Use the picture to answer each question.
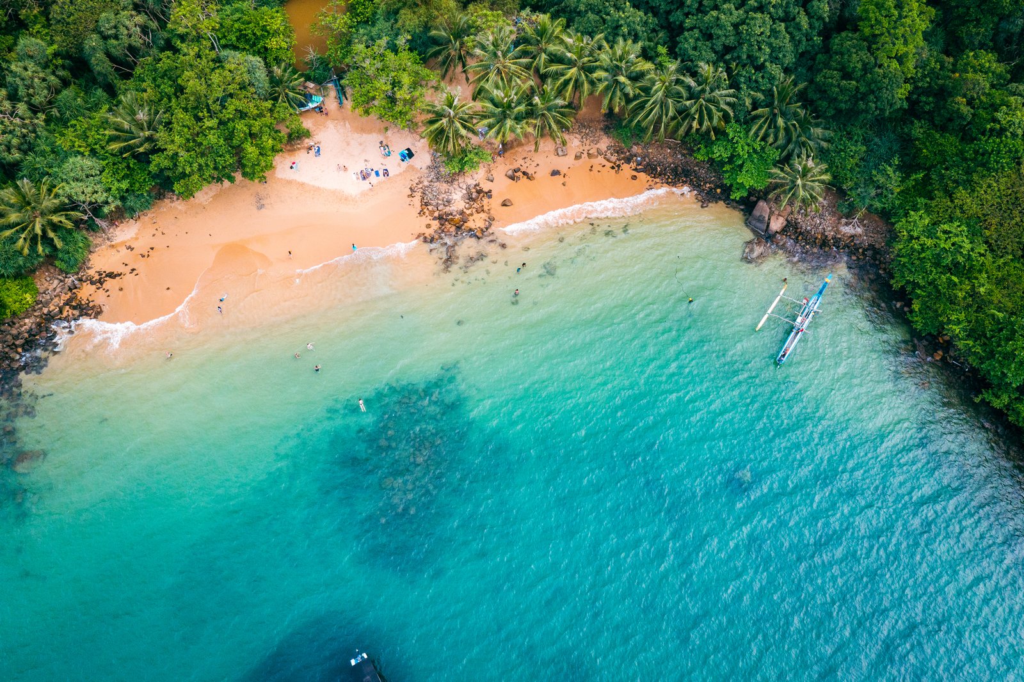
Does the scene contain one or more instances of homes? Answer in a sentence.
No, the frame has no home in it.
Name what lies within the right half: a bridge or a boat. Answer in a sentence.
What appears within the right half is a boat.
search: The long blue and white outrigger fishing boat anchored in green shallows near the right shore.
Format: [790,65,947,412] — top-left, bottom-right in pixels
[762,277,830,363]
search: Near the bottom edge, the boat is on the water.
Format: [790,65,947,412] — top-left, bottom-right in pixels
[346,650,380,682]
